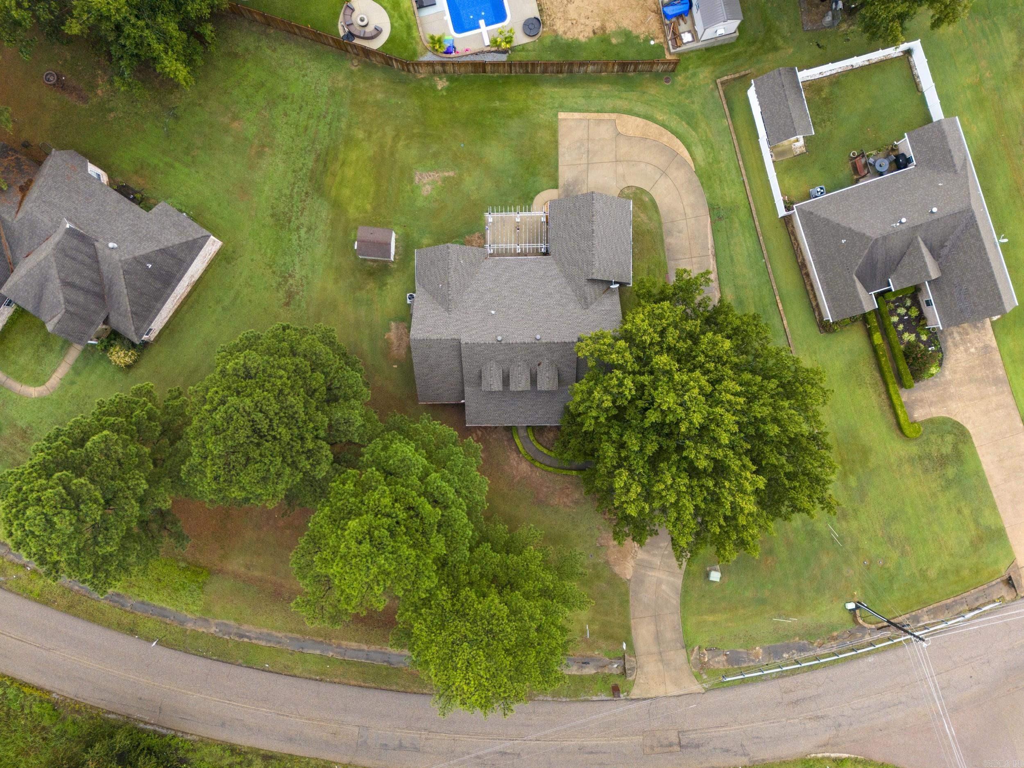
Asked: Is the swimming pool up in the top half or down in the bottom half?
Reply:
top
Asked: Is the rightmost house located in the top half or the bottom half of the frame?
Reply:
top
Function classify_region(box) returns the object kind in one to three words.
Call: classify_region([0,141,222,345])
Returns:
house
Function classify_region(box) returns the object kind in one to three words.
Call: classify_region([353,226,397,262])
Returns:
shed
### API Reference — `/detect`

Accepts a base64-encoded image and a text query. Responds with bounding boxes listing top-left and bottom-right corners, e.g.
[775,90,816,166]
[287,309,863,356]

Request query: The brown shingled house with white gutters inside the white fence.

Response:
[787,116,1019,329]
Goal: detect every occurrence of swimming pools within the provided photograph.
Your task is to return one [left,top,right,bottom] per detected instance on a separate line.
[443,0,512,38]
